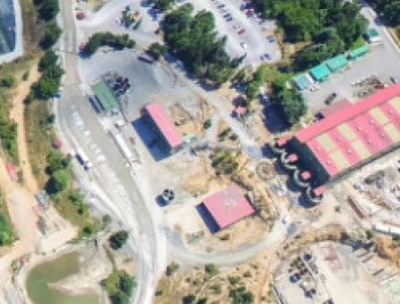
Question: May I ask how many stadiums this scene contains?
0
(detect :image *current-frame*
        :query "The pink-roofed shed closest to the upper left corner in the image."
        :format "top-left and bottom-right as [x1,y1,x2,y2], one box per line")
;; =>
[147,102,183,151]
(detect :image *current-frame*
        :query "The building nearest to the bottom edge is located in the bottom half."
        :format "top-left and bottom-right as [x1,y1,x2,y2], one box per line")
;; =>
[204,182,253,231]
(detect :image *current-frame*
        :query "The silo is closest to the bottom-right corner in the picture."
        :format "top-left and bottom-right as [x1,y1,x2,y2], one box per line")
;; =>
[303,184,326,205]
